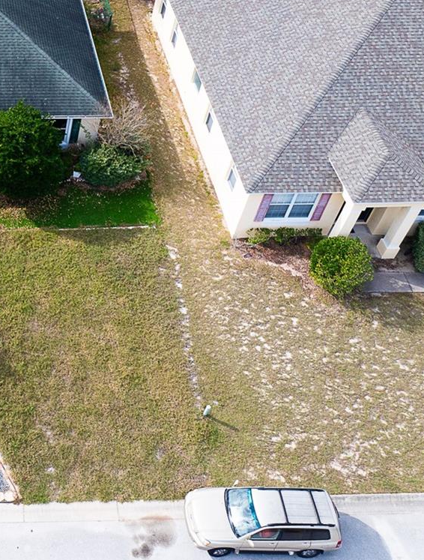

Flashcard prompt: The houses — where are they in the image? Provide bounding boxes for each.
[0,0,115,153]
[157,0,424,258]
